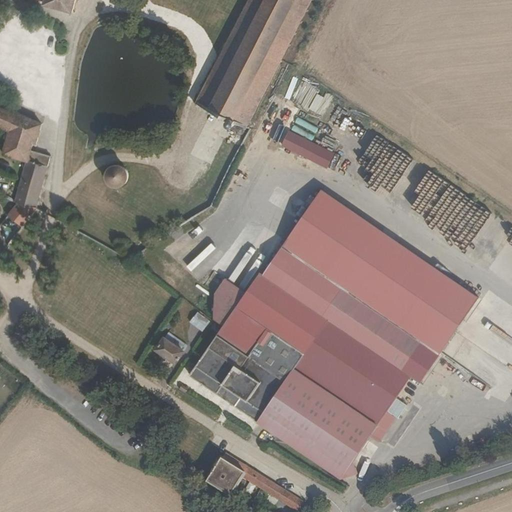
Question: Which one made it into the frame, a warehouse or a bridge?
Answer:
warehouse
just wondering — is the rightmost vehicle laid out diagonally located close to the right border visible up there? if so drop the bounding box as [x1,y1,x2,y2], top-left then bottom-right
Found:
[484,320,512,342]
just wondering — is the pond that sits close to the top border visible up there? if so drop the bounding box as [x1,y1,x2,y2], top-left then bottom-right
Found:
[76,14,186,144]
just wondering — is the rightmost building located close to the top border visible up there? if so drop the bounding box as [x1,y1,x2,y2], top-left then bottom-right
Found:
[196,0,308,124]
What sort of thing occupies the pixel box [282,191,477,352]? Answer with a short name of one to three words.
warehouse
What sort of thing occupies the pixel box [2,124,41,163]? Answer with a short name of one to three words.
house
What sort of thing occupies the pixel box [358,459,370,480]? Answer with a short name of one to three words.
vehicle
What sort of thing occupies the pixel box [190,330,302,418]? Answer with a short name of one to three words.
building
